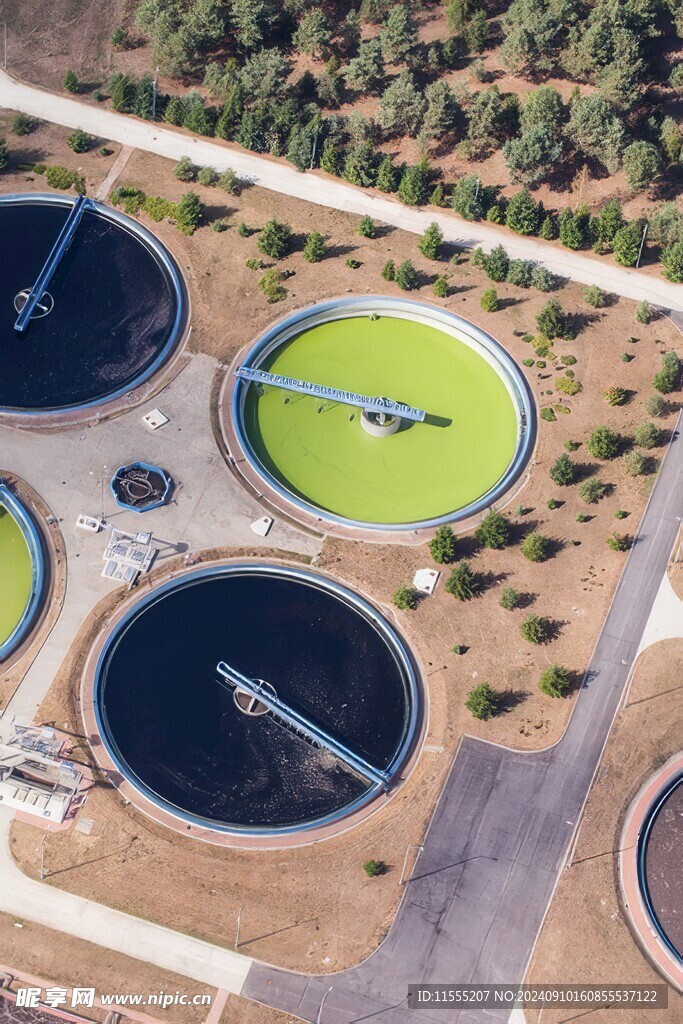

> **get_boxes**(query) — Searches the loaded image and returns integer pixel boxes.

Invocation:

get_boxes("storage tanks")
[79,560,430,853]
[0,478,54,675]
[218,296,535,543]
[0,191,192,431]
[618,748,683,992]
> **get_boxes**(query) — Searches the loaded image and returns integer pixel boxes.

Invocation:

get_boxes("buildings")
[0,754,90,827]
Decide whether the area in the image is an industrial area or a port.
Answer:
industrial area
